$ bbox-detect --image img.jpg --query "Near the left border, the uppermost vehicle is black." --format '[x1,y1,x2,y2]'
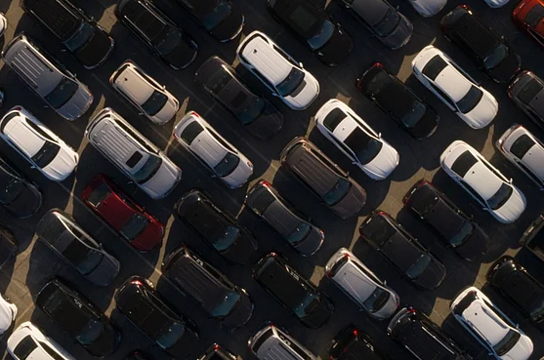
[18,0,115,66]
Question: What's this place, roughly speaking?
parking lot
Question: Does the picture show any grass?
No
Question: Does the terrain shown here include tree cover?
No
